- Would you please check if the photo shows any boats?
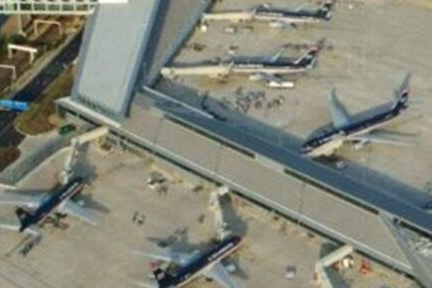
No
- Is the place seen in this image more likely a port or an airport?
airport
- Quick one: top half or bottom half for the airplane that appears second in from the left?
bottom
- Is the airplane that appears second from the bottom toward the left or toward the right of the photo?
left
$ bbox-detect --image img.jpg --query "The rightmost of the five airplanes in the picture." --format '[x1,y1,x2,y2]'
[299,86,421,159]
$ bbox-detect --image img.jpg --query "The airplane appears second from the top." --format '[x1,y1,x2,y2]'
[209,41,314,92]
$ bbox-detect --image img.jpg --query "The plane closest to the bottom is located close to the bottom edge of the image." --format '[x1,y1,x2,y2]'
[130,233,242,288]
